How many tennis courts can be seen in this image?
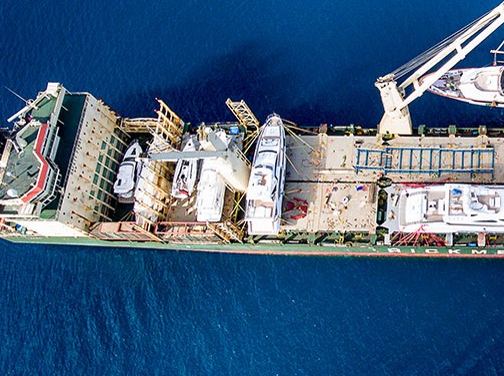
0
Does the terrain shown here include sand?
No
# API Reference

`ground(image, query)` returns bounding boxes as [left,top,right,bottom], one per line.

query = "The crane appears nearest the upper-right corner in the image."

[365,7,504,142]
